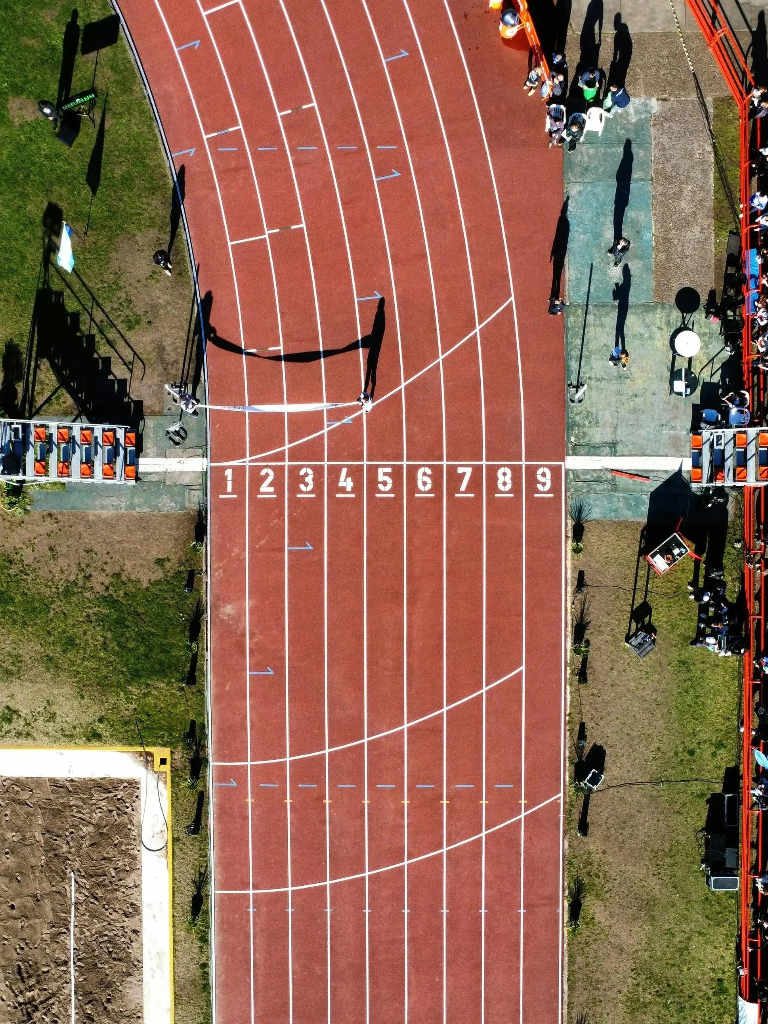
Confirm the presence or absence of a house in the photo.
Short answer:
No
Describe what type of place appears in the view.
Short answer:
sports ground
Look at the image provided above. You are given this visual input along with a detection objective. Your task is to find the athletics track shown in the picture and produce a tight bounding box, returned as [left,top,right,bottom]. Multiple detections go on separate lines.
[117,0,566,1024]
